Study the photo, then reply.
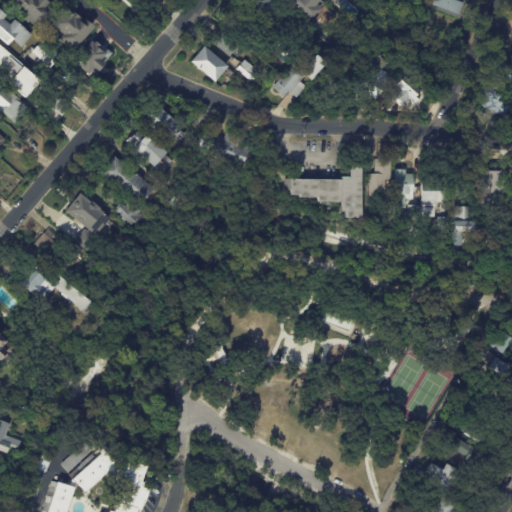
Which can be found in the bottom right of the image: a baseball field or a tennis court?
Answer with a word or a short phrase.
tennis court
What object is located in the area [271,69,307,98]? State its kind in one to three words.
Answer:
house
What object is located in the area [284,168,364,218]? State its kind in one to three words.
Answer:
building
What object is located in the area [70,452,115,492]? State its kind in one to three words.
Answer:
building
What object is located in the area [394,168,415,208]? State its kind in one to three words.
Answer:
house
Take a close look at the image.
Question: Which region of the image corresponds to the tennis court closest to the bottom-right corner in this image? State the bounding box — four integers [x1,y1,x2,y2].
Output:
[406,368,458,426]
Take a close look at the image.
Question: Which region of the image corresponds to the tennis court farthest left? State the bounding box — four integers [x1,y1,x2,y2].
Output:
[376,349,428,412]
